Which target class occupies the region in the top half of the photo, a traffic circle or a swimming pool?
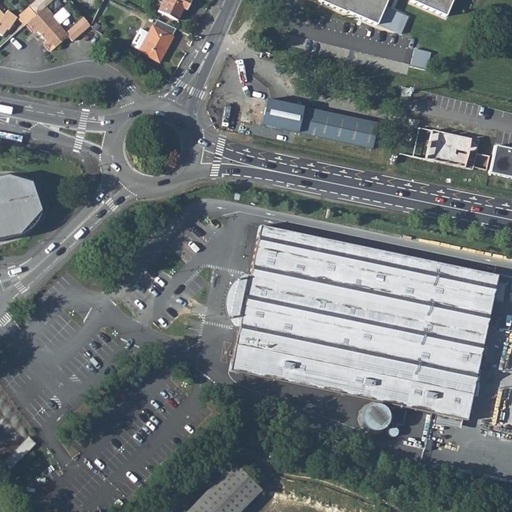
traffic circle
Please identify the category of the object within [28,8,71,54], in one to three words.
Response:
house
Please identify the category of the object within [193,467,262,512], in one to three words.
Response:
barn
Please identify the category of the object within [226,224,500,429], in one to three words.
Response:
building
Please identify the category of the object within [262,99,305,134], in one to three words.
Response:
building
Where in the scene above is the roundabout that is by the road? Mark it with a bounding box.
[102,96,202,196]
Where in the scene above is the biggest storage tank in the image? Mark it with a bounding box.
[358,400,392,430]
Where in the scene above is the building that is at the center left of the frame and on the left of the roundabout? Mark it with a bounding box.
[0,174,43,238]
